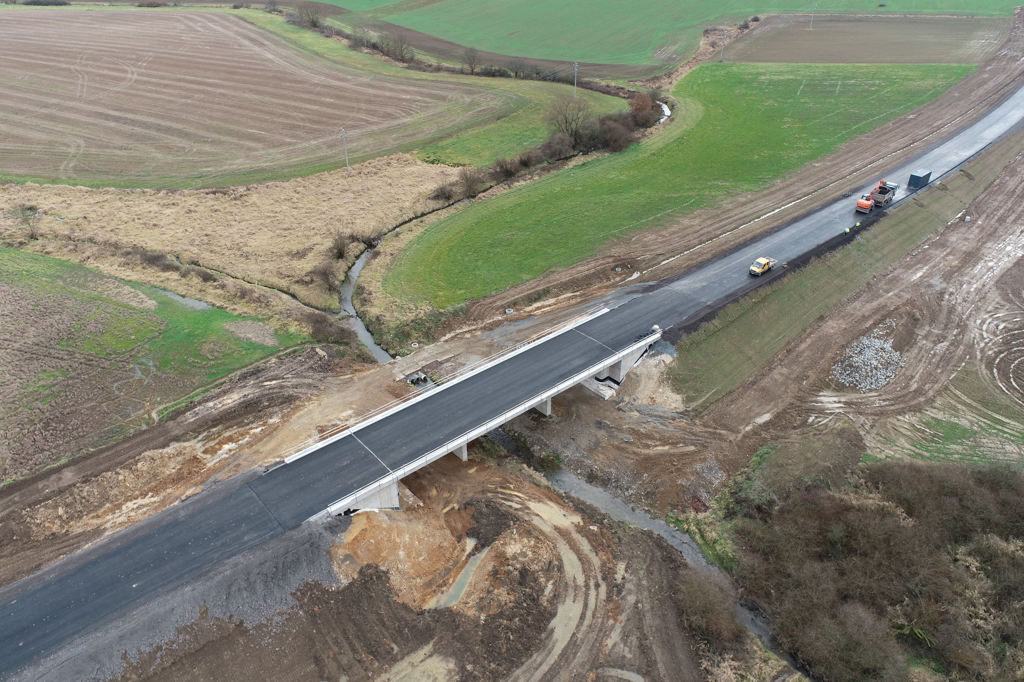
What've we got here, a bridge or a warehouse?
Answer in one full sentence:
The image shows a bridge.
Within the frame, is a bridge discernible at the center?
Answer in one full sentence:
Yes, a bridge shows up at the center.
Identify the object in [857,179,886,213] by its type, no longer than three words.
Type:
work vehicle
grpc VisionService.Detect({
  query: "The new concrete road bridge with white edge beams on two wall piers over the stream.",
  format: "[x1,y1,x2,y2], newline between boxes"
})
[281,301,660,518]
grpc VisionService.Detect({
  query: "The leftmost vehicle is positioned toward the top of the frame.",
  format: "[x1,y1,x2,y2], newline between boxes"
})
[749,257,779,275]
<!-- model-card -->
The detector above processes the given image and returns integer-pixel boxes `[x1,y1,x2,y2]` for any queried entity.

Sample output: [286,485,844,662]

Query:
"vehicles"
[749,257,779,275]
[872,182,903,206]
[857,179,886,213]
